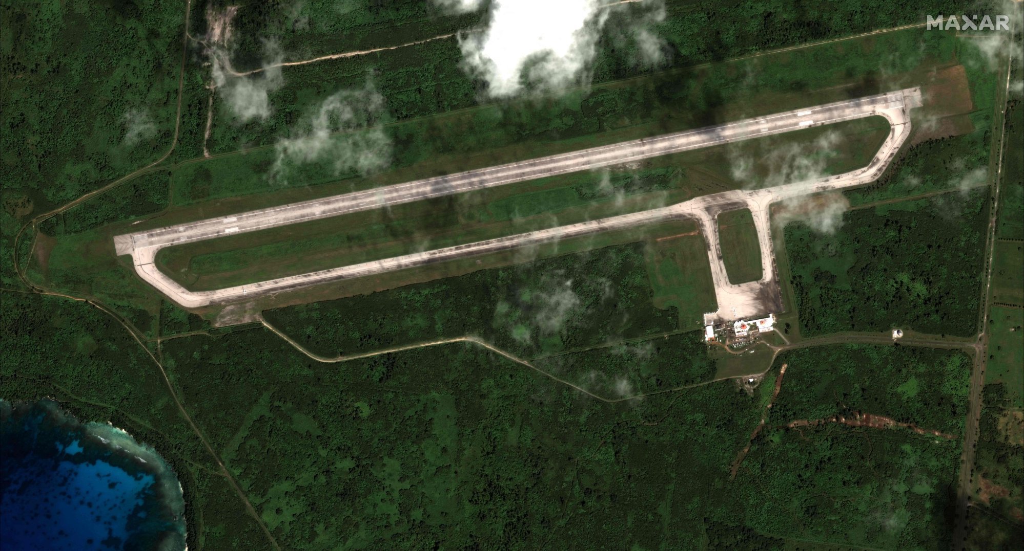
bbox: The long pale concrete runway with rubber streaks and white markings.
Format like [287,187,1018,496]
[114,87,923,256]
